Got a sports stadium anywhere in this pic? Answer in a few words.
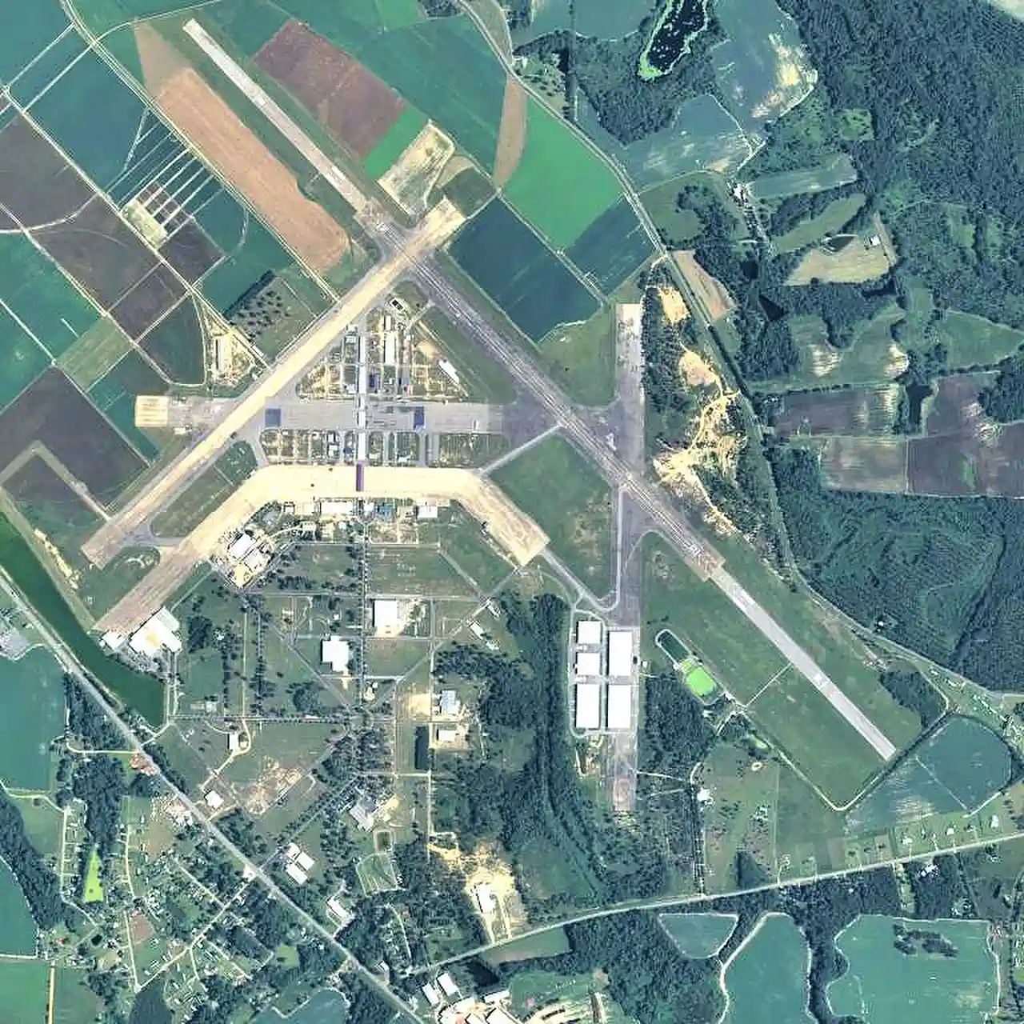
No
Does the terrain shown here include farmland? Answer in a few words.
Yes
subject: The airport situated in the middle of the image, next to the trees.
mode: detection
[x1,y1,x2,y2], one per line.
[81,19,896,810]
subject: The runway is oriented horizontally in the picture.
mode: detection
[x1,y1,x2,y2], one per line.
[166,398,502,432]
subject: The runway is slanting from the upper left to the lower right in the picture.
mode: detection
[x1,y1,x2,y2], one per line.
[352,196,705,581]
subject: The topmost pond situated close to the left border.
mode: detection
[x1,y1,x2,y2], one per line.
[0,510,166,727]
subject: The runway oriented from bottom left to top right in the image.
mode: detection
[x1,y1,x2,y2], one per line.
[87,199,465,568]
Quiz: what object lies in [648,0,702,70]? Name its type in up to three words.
pond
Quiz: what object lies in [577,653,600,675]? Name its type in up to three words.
building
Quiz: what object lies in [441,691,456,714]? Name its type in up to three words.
building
